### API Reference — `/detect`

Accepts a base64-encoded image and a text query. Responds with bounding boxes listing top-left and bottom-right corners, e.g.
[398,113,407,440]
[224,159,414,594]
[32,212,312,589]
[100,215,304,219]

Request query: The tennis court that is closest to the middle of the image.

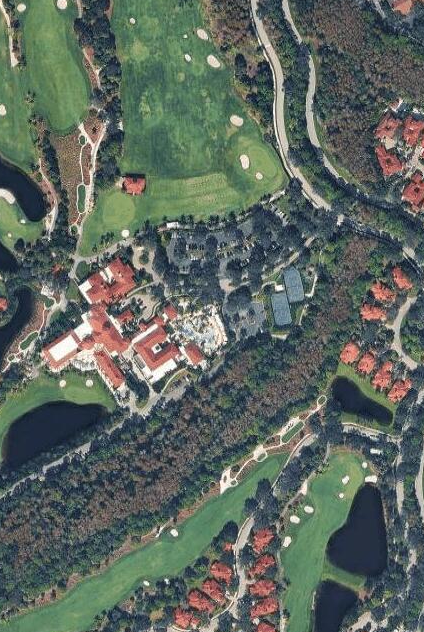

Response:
[272,293,292,325]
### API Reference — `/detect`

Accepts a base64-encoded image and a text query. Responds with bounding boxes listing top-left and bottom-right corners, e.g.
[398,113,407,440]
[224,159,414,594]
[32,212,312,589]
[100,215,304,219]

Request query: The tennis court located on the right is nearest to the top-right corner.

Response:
[284,267,304,303]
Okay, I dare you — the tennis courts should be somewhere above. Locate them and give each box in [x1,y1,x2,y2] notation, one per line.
[272,293,292,325]
[284,267,304,303]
